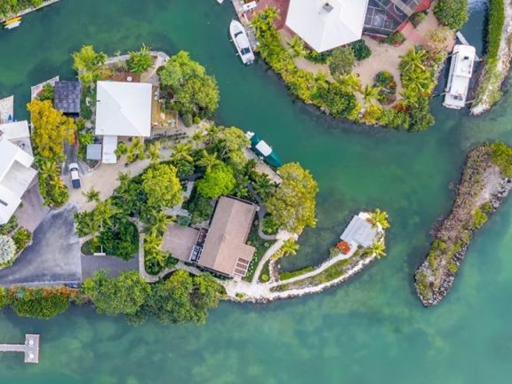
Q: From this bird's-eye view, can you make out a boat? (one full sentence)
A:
Yes, there's a boat down there.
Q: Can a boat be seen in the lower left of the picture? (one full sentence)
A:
No, no boat is visible in the lower left of the picture.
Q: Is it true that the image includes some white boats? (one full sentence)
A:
Yes, the photo shows a white boat.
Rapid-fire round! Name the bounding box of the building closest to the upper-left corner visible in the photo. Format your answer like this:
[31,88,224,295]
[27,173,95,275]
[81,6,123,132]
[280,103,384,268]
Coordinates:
[54,81,80,113]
